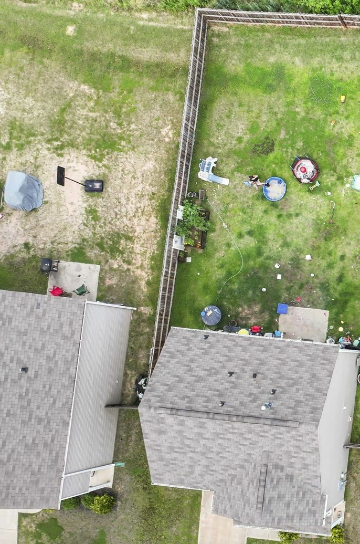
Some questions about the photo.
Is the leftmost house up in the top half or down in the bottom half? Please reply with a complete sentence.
It is in the bottom half that the leftmost house appears.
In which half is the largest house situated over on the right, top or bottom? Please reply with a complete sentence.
The bottom half of the photo is where the largest house situated over on the right is.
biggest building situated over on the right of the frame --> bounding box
[142,326,359,535]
